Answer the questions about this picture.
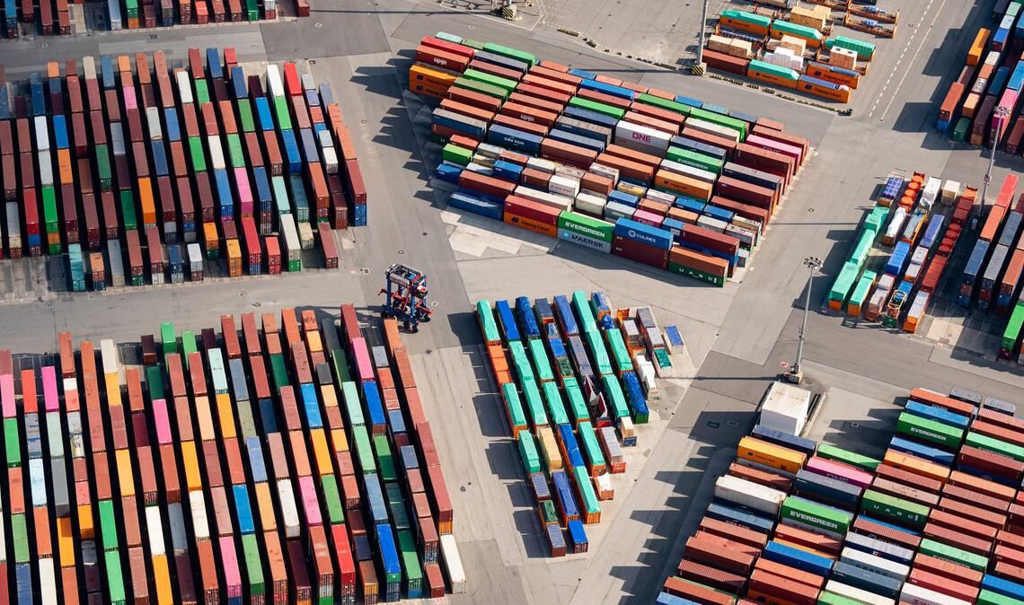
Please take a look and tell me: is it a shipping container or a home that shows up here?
shipping container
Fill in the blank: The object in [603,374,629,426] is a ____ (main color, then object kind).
green shipping container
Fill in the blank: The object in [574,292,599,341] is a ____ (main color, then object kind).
green shipping container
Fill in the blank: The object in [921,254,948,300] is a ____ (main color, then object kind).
red shipping container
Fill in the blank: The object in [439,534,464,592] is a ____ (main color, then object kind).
white shipping container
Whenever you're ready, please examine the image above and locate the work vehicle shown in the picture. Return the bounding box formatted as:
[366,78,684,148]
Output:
[379,265,435,332]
